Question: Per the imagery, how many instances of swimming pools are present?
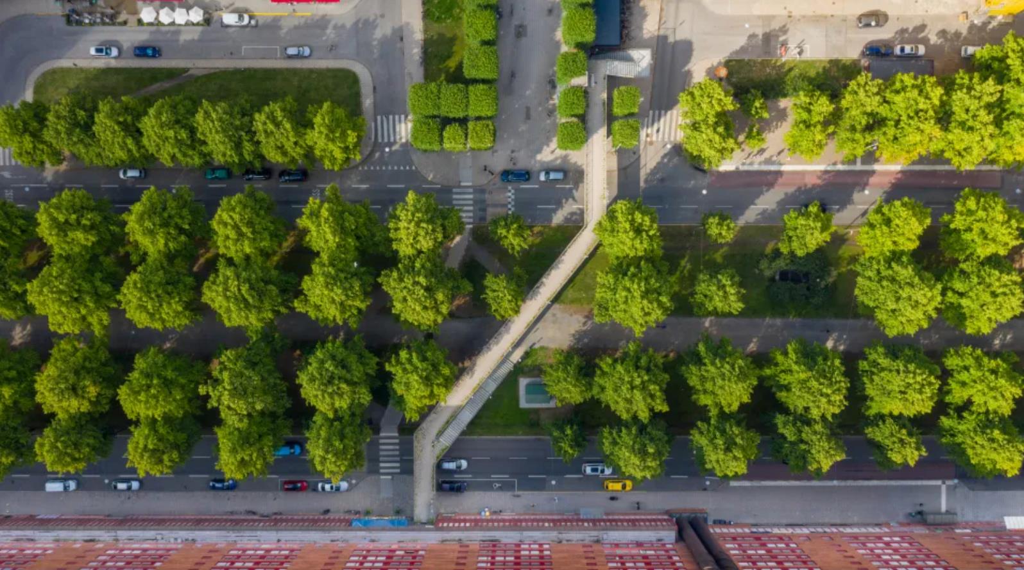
none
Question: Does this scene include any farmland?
No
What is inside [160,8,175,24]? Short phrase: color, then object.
white umbrella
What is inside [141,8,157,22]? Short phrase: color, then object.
white umbrella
